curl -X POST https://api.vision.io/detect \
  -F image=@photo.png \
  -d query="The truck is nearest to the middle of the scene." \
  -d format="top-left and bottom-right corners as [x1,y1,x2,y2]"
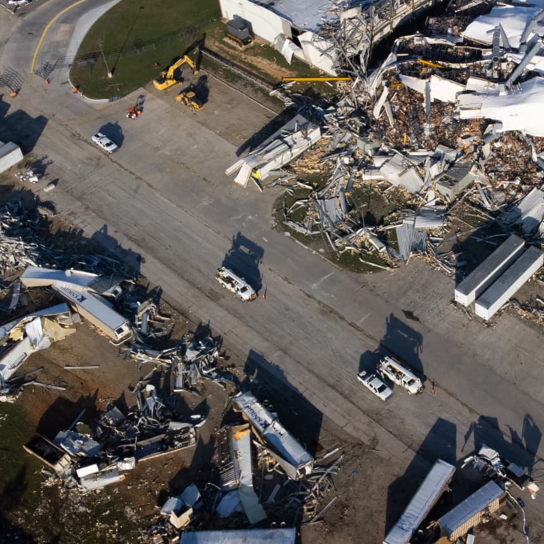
[215,258,255,297]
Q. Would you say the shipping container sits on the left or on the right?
left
